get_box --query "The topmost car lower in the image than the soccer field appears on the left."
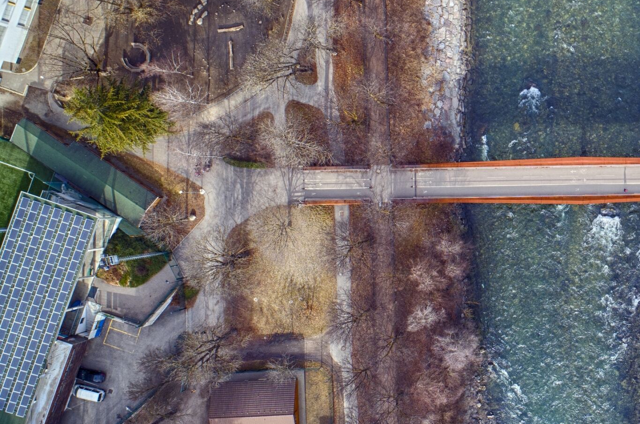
[75,367,108,383]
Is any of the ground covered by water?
Yes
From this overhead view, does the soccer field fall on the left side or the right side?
left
